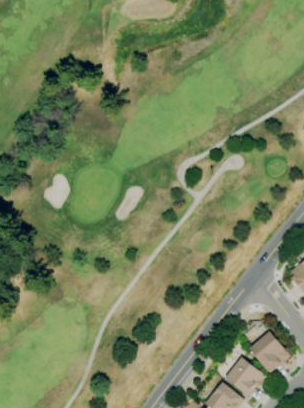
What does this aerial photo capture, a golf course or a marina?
golf course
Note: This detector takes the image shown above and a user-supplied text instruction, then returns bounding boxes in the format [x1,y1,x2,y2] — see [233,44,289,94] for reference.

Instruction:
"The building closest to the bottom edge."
[206,382,242,408]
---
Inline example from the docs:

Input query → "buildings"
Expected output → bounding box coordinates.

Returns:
[250,332,290,372]
[226,358,264,396]
[292,262,304,286]
[206,382,242,408]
